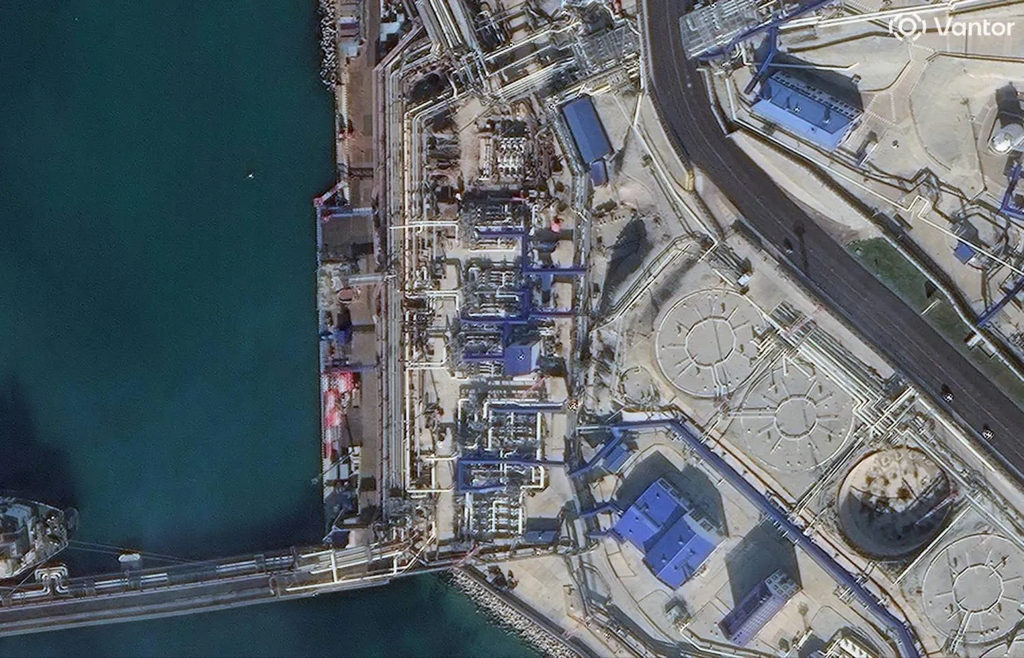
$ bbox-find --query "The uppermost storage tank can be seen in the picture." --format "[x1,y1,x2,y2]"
[989,121,1024,156]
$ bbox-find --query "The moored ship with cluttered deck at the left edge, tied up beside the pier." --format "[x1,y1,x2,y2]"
[0,494,72,578]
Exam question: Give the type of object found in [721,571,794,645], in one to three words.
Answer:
building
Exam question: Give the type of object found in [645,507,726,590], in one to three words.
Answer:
building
